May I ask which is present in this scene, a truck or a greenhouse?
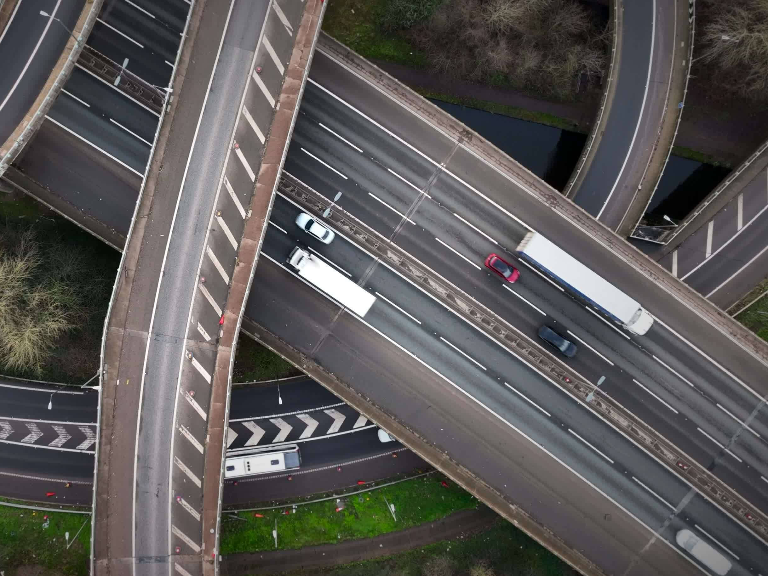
truck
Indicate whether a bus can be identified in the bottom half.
Yes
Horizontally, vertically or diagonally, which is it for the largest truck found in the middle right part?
diagonally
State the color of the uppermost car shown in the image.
white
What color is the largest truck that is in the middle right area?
white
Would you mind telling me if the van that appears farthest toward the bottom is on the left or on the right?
right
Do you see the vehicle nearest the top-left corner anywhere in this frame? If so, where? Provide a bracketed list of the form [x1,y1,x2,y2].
[294,212,334,244]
